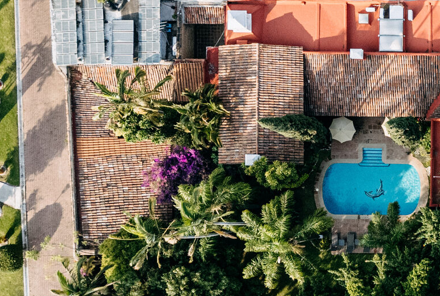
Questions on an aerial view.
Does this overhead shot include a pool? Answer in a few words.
Yes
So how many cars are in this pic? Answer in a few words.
0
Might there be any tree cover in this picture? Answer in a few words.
Yes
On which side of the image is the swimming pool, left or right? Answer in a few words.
right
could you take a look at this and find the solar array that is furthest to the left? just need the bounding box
[54,0,75,64]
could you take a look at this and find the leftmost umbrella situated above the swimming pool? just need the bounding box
[329,117,356,144]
